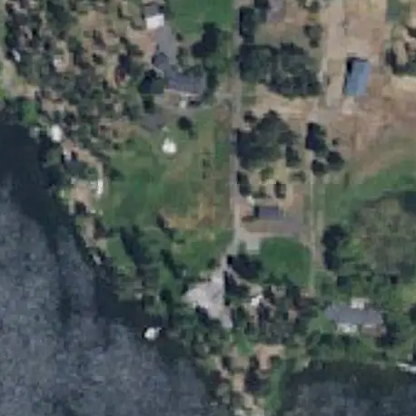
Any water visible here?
Yes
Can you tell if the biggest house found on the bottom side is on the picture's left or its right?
right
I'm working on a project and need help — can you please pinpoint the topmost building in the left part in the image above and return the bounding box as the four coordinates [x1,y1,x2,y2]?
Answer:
[145,1,166,31]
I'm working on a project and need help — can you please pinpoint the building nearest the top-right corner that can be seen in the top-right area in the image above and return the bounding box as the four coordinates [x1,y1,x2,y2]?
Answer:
[343,56,372,97]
